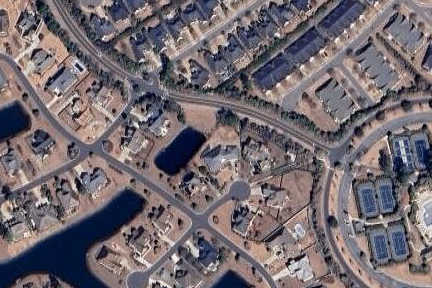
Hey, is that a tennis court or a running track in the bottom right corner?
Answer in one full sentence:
You can see a tennis court in the bottom right corner.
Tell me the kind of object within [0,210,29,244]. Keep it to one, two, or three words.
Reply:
house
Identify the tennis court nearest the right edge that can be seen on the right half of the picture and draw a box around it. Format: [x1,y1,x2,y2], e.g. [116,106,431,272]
[410,131,432,167]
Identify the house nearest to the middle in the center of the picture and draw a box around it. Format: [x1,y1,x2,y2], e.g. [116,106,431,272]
[200,139,237,169]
